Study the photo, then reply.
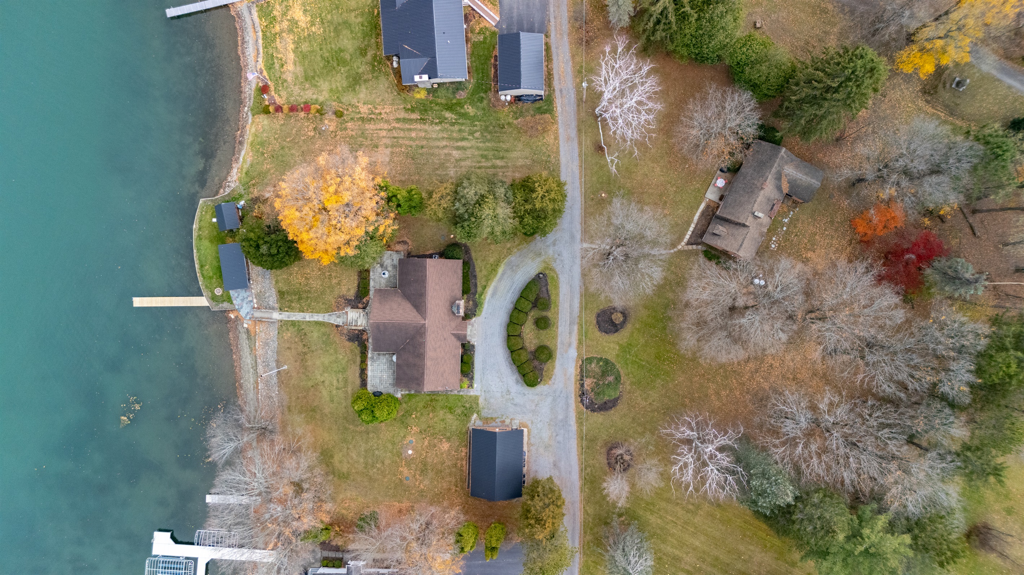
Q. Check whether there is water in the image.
Yes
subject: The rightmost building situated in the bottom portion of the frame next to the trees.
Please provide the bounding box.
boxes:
[470,427,524,502]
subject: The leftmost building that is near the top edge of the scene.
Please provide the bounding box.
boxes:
[380,0,468,93]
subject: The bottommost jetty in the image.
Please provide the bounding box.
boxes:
[150,531,285,575]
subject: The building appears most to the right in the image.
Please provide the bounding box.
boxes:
[700,139,824,259]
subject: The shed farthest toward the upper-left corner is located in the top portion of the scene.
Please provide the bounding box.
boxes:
[214,202,242,232]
